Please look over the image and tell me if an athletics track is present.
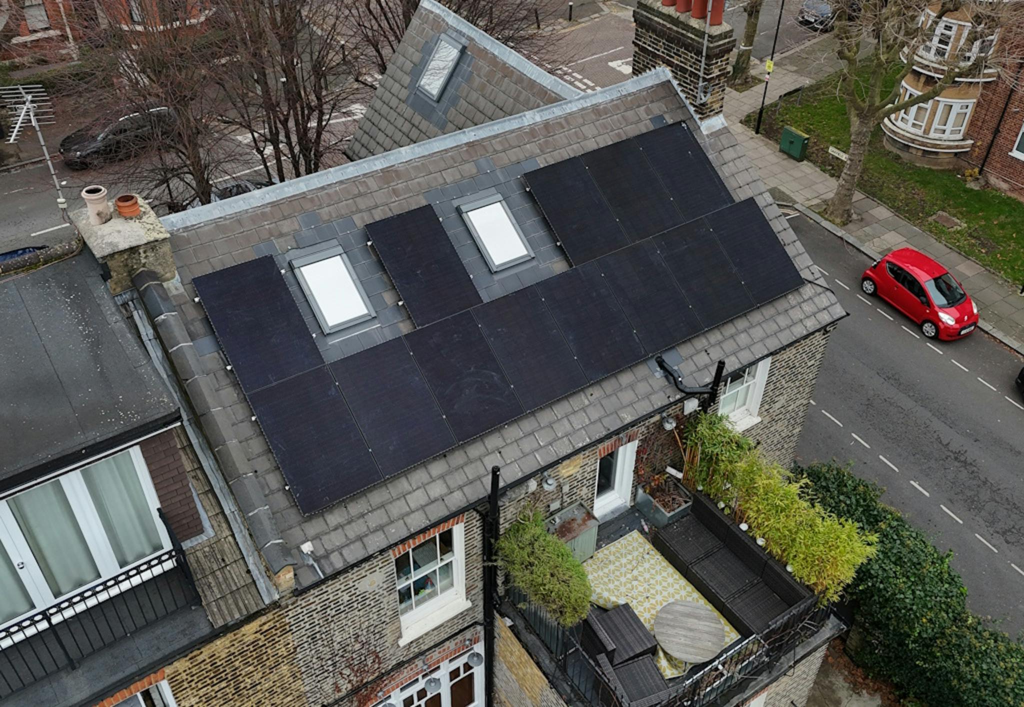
No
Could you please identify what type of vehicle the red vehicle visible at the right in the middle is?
car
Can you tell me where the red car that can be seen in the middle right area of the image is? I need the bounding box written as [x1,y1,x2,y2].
[861,243,986,340]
